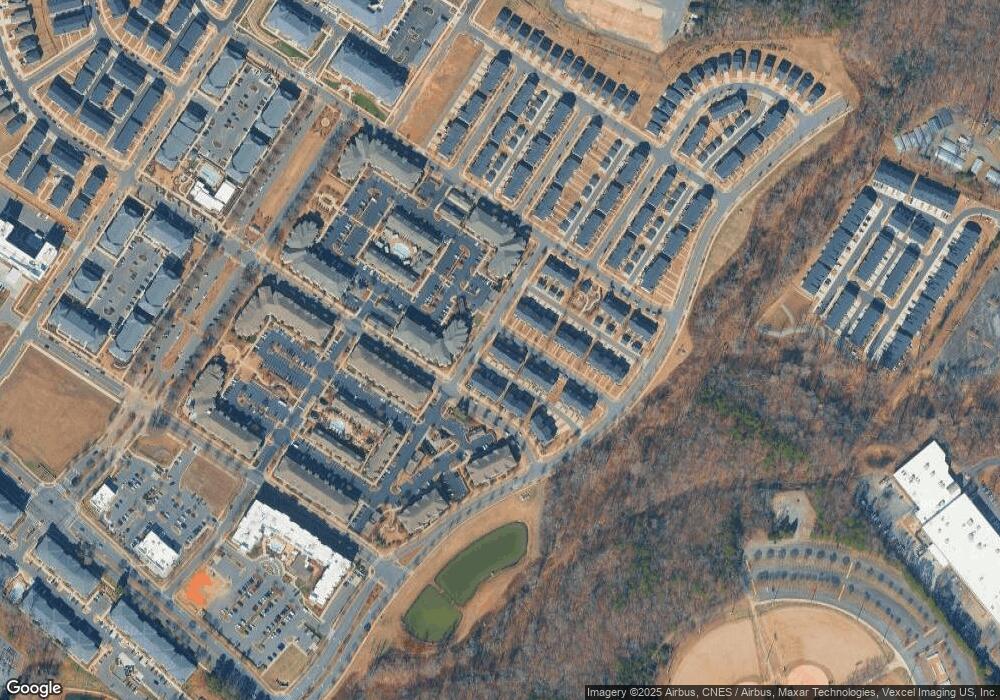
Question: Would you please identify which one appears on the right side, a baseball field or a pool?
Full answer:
Visible on the right side is a baseball field.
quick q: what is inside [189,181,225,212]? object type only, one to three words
building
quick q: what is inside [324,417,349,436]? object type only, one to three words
swimming pool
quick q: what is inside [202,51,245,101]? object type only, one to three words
building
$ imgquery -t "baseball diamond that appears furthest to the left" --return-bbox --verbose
[664,620,780,700]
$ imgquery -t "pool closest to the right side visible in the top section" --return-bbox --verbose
[385,235,413,259]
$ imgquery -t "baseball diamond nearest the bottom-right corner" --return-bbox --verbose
[757,603,910,700]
